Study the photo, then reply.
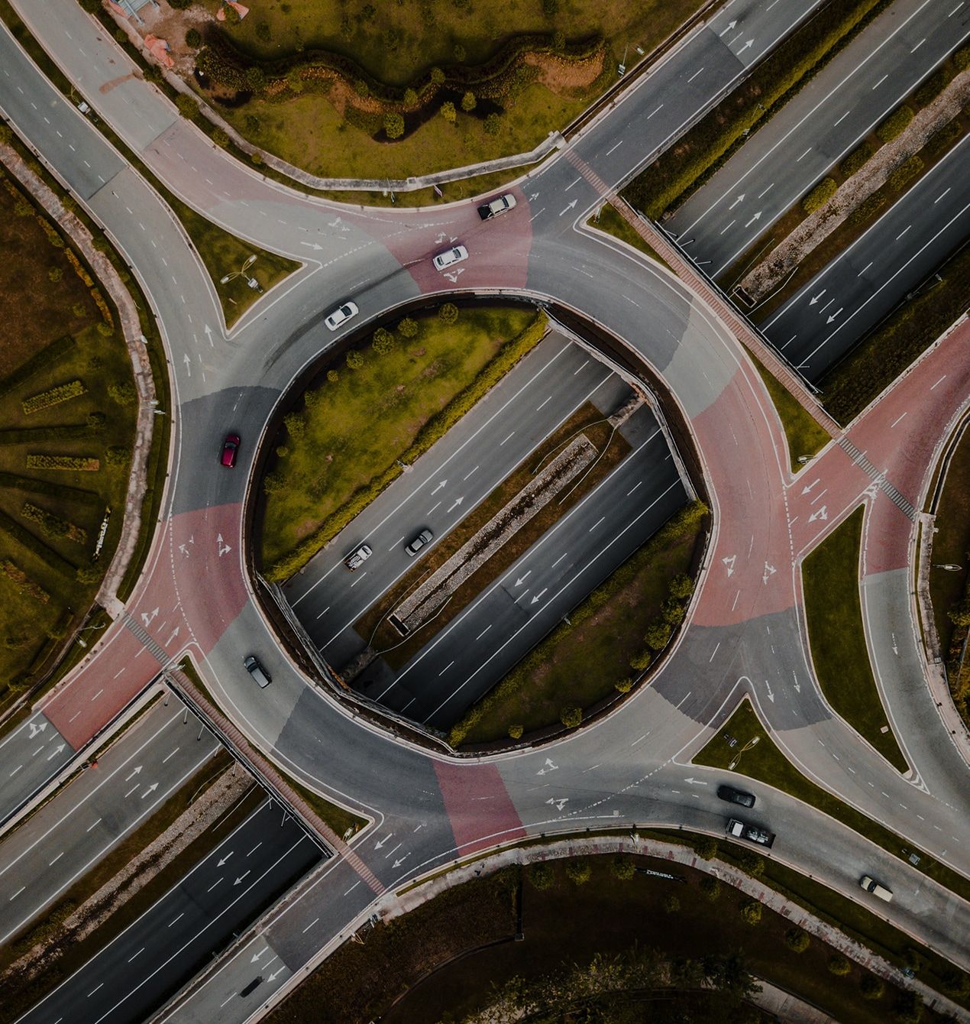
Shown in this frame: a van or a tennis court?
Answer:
van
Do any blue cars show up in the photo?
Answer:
No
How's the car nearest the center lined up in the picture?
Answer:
at an angle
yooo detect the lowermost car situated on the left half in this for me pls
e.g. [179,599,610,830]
[244,655,272,690]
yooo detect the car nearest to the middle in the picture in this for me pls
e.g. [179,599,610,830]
[404,528,435,558]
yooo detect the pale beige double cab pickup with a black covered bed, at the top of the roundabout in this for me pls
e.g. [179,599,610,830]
[478,194,518,222]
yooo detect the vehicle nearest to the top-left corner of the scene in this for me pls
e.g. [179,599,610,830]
[323,302,360,330]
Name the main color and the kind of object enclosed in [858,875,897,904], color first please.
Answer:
white van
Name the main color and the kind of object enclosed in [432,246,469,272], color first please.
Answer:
white car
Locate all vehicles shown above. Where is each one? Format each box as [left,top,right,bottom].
[323,302,360,330]
[244,655,272,690]
[404,528,435,558]
[432,246,469,272]
[220,435,240,467]
[343,544,373,572]
[478,194,518,222]
[716,785,757,808]
[725,819,774,849]
[858,875,897,904]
